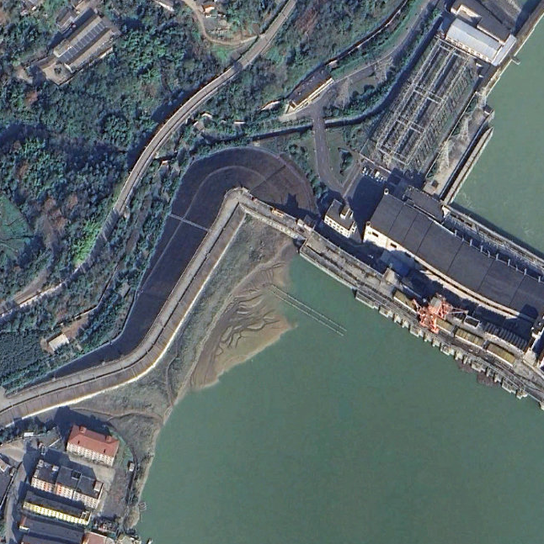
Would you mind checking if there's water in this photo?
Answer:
Yes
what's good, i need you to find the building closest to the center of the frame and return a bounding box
[324,204,355,237]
